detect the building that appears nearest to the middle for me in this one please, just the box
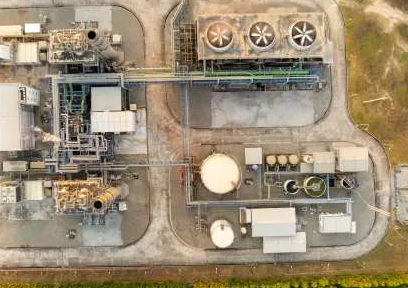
[243,145,263,166]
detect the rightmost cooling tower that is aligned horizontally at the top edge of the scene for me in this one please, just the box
[196,11,330,68]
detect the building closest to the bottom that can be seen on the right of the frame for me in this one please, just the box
[262,229,307,254]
